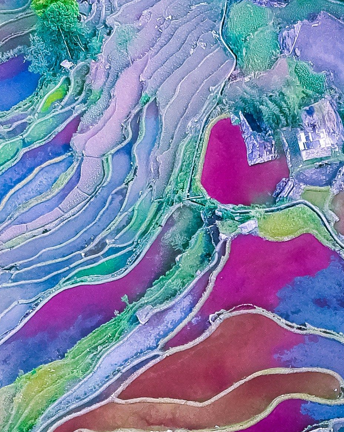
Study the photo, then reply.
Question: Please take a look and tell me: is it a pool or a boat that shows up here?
pool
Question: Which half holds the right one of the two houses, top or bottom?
top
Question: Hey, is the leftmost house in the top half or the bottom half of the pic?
top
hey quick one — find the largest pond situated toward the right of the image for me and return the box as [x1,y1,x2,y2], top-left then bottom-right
[203,119,288,205]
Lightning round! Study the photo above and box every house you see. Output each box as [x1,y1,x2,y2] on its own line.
[231,104,277,171]
[300,101,344,167]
